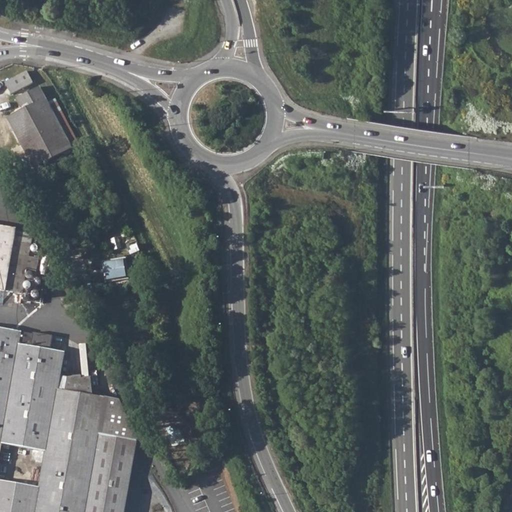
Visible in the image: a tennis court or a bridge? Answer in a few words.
bridge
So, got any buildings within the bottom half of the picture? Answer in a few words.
Yes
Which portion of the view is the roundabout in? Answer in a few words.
top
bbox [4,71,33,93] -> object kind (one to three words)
house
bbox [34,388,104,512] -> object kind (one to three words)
building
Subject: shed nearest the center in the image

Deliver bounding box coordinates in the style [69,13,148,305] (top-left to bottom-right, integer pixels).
[104,258,126,280]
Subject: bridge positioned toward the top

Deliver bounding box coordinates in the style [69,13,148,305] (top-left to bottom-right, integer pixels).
[347,118,478,171]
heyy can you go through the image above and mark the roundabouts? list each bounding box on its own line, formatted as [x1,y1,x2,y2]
[170,58,286,174]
